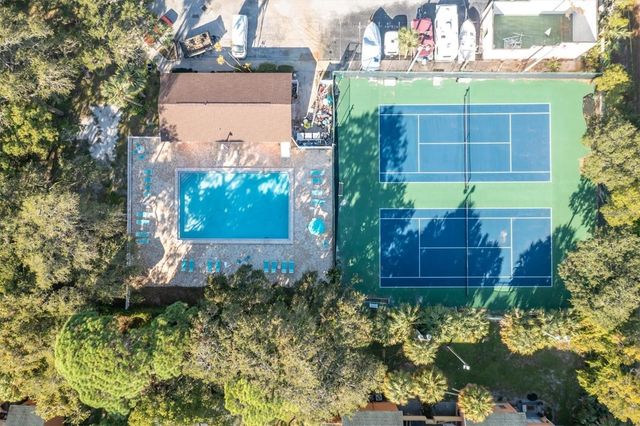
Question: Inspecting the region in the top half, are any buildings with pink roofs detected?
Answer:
No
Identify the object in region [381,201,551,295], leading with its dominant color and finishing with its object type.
blue tennis court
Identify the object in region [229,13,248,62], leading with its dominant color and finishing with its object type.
white vehicle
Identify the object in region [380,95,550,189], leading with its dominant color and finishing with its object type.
blue tennis court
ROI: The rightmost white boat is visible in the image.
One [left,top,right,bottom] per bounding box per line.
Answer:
[461,20,476,66]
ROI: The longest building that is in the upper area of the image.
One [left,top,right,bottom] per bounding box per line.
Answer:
[157,72,292,144]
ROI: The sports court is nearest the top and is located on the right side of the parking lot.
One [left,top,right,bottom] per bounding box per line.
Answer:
[482,0,599,59]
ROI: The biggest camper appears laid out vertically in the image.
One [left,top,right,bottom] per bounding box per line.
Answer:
[436,2,458,63]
